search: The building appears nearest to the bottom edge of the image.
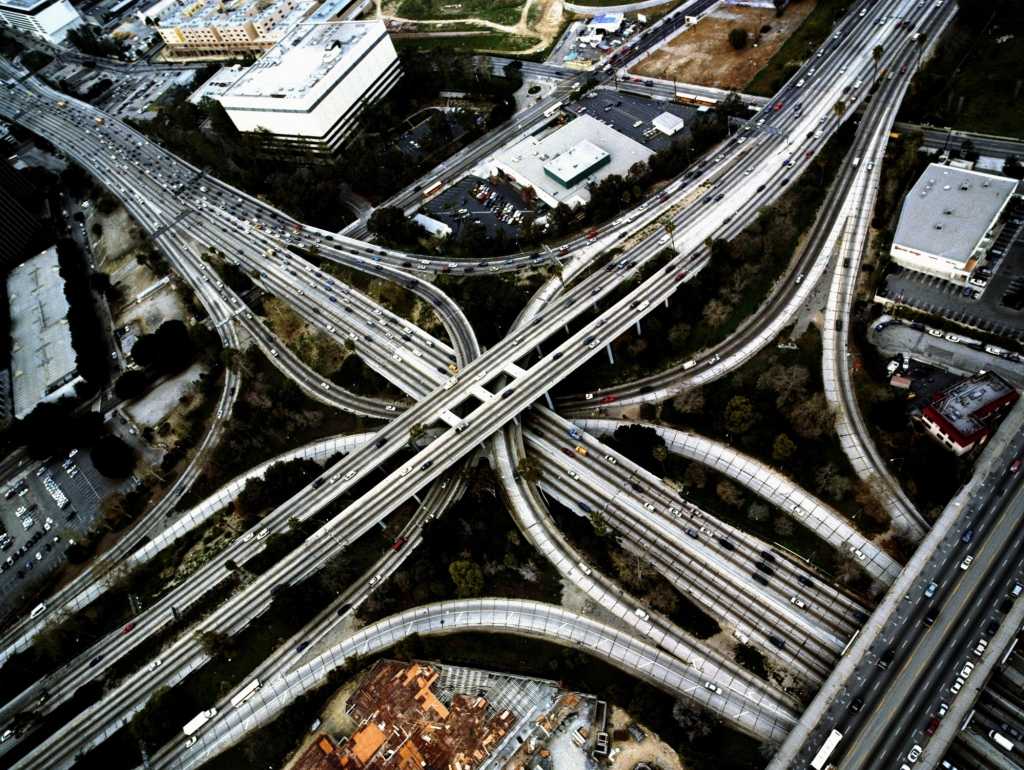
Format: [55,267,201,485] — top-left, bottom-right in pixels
[289,656,561,770]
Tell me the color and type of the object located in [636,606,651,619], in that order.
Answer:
white vehicle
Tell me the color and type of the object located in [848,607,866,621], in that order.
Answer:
black car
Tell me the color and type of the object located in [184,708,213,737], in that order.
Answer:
white truck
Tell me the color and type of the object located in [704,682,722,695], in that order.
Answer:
white vehicle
